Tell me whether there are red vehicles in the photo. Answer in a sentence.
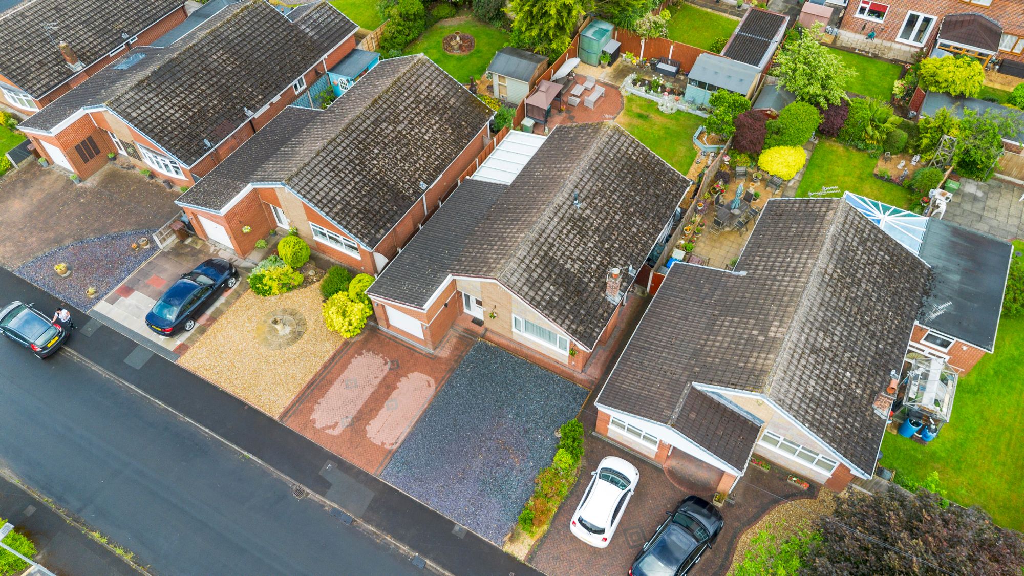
No, no red vehicle is visible in the scene.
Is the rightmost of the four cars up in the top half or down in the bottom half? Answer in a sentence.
The rightmost of the four cars sits in the bottom half of the picture.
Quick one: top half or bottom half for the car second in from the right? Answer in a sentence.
Seen from above, the car second in from the right lies in the bottom half of the view.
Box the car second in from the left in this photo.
[144,255,240,338]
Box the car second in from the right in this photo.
[569,453,640,554]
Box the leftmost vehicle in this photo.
[0,298,68,360]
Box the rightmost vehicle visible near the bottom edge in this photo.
[622,491,721,576]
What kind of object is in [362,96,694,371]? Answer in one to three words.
house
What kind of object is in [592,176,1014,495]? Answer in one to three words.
house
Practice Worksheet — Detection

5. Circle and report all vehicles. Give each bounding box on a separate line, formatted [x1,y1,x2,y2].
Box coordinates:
[569,453,640,554]
[622,491,721,576]
[144,255,240,338]
[0,298,68,360]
